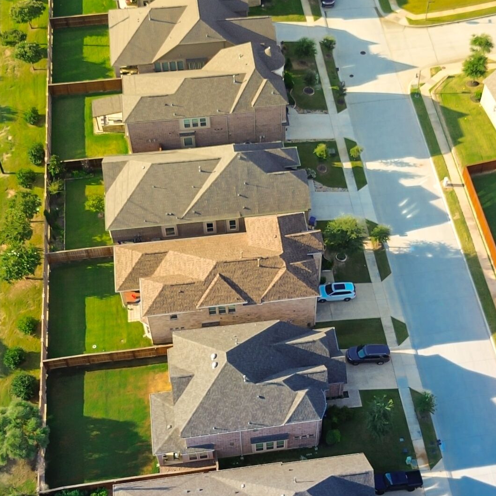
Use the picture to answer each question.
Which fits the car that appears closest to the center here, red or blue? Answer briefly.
blue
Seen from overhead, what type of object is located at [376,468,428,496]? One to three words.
truck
